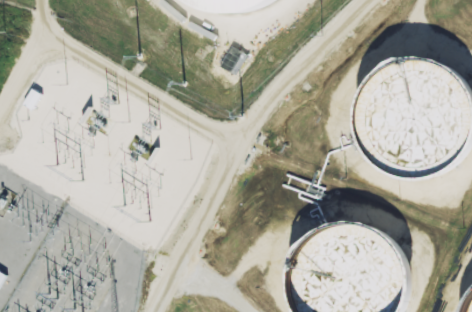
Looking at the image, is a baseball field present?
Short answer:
No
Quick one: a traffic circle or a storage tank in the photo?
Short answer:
storage tank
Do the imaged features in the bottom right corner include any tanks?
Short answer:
Yes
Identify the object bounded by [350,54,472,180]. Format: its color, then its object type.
white storage tank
